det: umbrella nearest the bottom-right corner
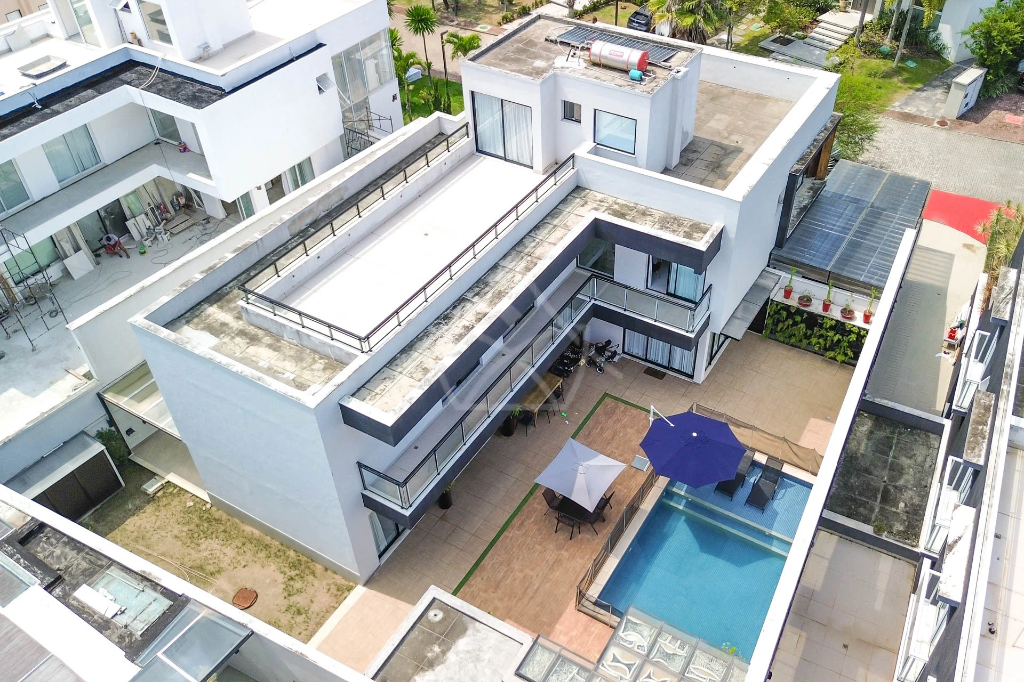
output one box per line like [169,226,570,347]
[631,400,747,489]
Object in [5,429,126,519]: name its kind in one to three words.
shed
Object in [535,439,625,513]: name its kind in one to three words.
umbrella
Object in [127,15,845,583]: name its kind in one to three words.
house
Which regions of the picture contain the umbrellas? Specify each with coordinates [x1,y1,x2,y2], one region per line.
[631,400,747,489]
[535,439,625,513]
